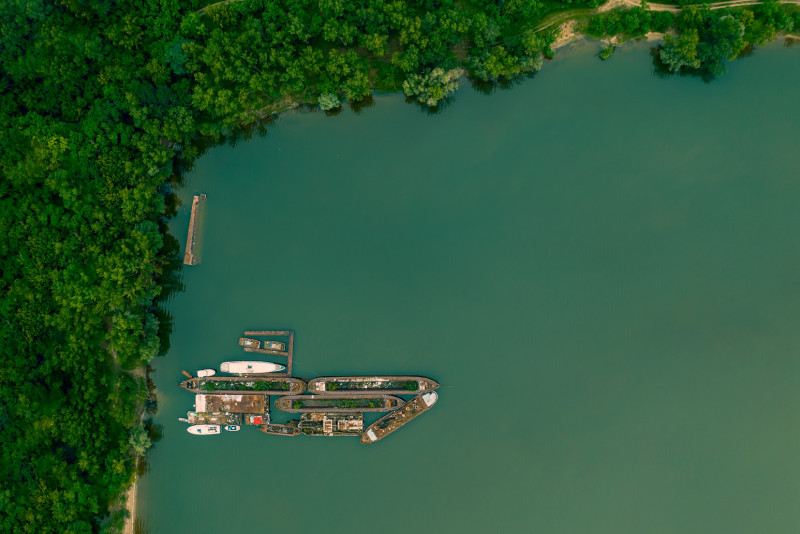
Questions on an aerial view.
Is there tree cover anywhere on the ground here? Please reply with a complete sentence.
Yes, there's tree cover in this view.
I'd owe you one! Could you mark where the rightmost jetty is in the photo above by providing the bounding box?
[236,331,295,377]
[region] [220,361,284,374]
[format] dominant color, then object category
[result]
white boat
